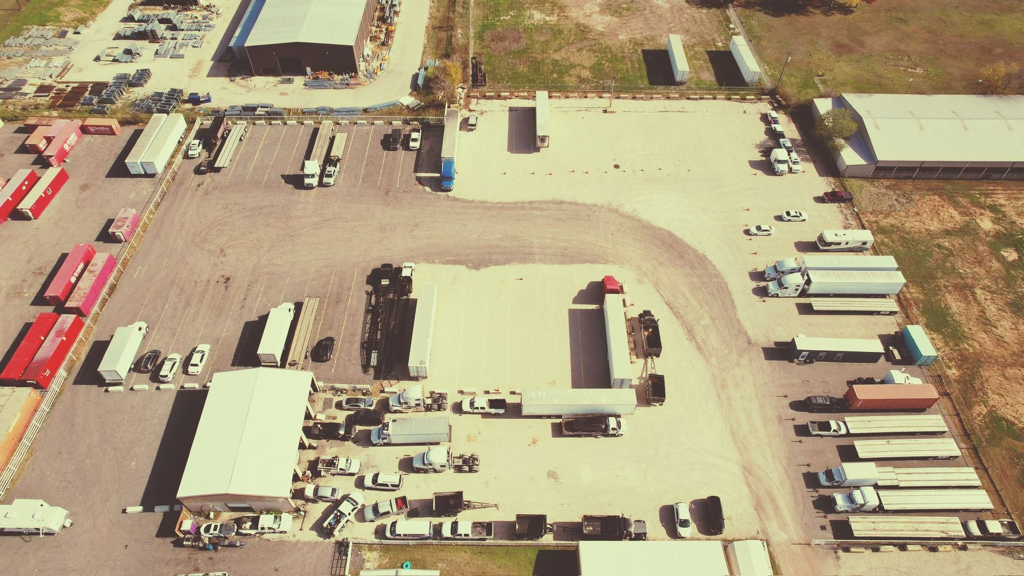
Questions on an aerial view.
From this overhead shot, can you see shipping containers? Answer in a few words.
Yes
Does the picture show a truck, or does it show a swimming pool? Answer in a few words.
truck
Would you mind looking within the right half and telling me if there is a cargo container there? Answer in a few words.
Yes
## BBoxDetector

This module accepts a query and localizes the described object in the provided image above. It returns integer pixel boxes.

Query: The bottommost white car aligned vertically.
[673,502,692,538]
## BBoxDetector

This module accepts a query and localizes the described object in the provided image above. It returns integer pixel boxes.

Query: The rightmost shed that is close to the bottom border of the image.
[727,541,775,576]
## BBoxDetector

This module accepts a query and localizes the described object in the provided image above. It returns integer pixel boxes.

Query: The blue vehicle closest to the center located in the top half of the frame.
[440,159,457,192]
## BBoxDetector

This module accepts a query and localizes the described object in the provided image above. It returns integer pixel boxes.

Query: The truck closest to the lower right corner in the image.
[963,517,1024,539]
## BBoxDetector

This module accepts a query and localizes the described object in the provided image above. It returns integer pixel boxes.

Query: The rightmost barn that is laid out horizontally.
[840,94,1024,178]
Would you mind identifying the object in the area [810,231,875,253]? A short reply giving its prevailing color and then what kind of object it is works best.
white camper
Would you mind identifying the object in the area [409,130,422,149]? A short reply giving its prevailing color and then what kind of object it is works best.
white vehicle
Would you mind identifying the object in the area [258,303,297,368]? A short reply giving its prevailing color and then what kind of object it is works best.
white truck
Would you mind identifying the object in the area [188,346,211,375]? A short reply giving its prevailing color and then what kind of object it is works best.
white car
